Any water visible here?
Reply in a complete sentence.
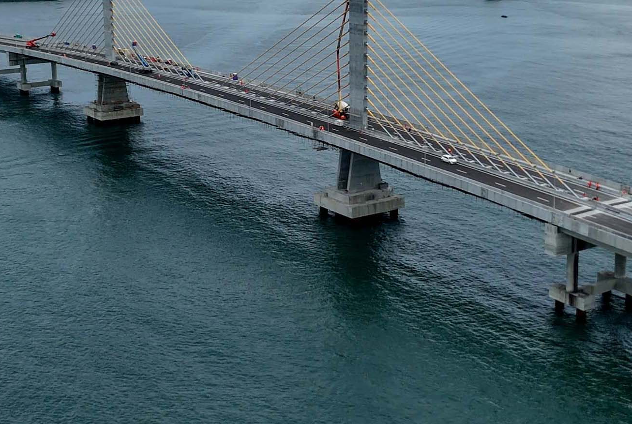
Yes, some water is visible.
